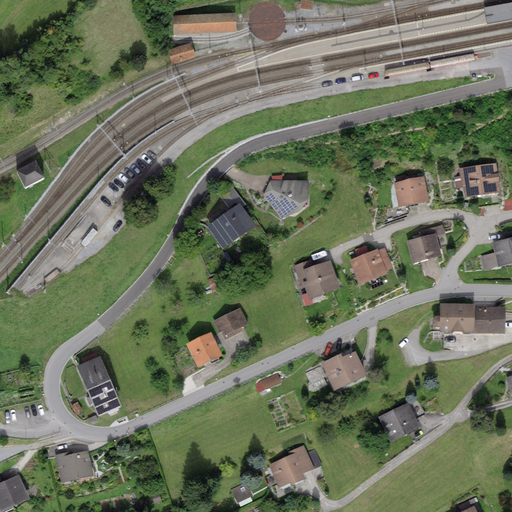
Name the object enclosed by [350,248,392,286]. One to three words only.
house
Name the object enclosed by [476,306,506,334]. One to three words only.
barn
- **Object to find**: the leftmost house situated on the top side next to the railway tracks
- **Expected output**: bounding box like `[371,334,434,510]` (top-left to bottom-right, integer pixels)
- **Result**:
[17,160,45,188]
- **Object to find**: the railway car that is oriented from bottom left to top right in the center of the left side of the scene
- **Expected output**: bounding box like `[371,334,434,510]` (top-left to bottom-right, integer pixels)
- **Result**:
[44,268,62,283]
